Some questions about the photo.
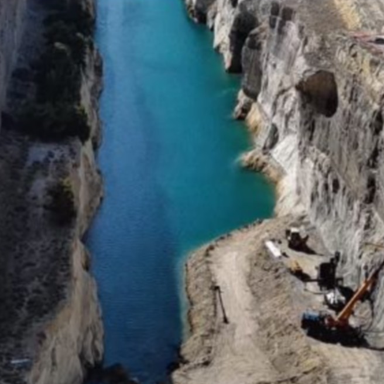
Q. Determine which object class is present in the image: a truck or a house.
truck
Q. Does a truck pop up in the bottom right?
Yes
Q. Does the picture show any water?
Yes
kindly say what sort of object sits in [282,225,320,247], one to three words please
work vehicle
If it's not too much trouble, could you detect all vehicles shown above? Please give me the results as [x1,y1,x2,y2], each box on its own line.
[304,259,384,343]
[323,286,352,311]
[282,225,320,247]
[288,259,318,279]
